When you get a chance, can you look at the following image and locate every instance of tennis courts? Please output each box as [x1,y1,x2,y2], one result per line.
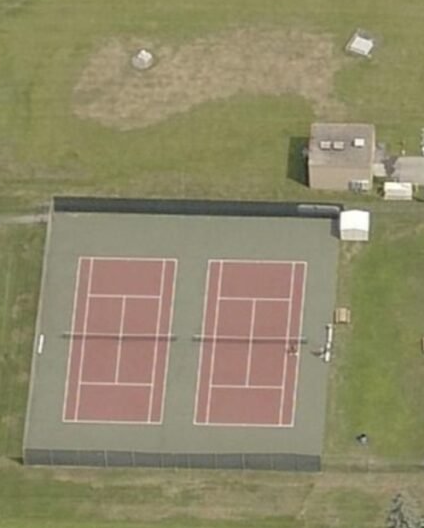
[63,257,177,424]
[194,260,307,427]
